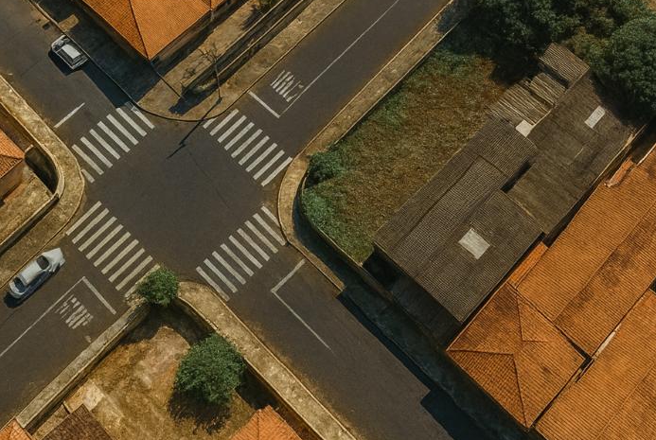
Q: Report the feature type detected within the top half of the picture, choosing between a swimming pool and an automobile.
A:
automobile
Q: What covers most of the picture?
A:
paved ground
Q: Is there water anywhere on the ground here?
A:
No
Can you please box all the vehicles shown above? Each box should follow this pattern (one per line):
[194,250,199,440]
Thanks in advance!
[48,35,88,74]
[1,248,64,304]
